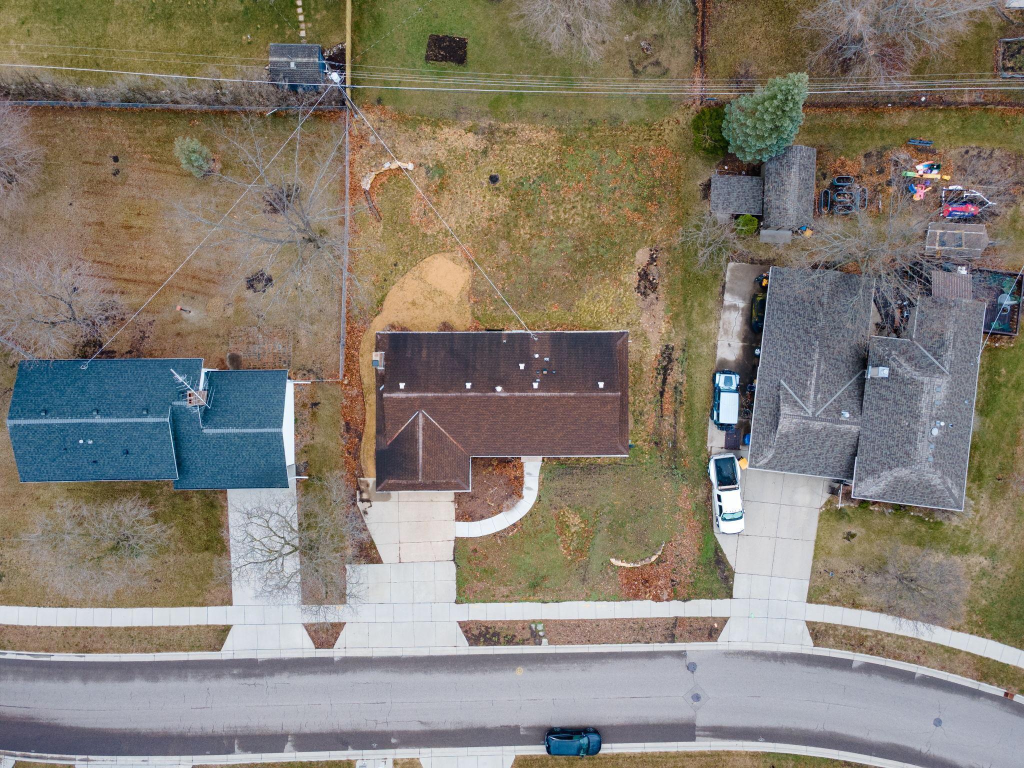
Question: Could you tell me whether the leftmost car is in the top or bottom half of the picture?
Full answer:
The leftmost car sits in the bottom half of the picture.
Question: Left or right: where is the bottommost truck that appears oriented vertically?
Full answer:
The bottommost truck that appears oriented vertically appears in the right half of the scene.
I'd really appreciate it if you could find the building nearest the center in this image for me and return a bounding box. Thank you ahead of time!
[372,326,634,493]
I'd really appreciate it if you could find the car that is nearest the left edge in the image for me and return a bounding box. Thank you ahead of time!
[544,728,601,761]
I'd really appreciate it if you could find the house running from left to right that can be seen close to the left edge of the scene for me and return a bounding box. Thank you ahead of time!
[5,357,308,491]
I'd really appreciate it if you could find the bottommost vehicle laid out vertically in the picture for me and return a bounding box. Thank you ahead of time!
[706,451,748,534]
